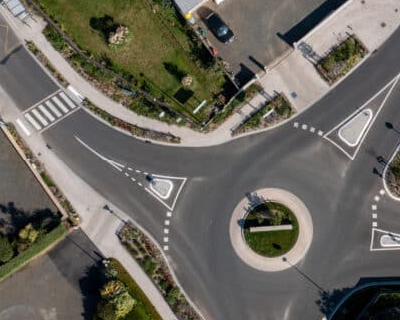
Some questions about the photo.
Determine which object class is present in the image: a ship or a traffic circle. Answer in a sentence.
The image shows a traffic circle.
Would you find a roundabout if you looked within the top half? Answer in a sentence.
No, no roundabout can be made out within the top half.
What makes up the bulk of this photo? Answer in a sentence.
What you mostly see from above here is paved ground.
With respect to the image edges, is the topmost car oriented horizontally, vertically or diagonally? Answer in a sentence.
I'd say the topmost car is aligned diagonally in the picture.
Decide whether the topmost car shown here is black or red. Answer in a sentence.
The topmost car looks black in the image.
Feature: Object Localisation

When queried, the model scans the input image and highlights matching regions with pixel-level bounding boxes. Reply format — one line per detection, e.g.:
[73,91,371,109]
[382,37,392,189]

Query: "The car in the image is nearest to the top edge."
[201,10,235,46]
